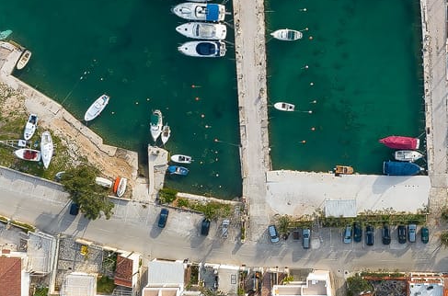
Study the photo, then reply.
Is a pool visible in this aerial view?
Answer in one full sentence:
No, the photo shows no pool.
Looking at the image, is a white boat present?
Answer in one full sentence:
Yes, a white boat appears in the view.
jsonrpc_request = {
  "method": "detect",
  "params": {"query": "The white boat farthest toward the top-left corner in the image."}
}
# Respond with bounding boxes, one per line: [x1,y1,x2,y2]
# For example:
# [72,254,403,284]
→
[19,48,32,68]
